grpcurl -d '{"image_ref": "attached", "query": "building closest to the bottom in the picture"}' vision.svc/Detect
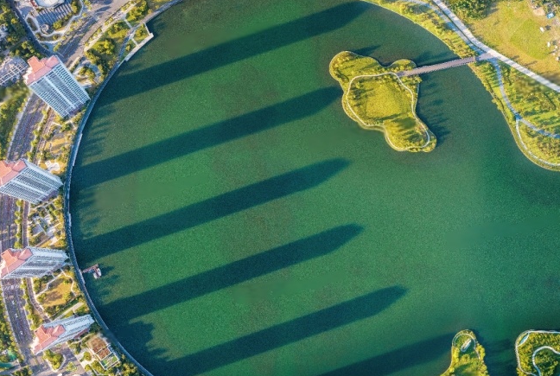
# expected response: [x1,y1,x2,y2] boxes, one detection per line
[87,336,116,367]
